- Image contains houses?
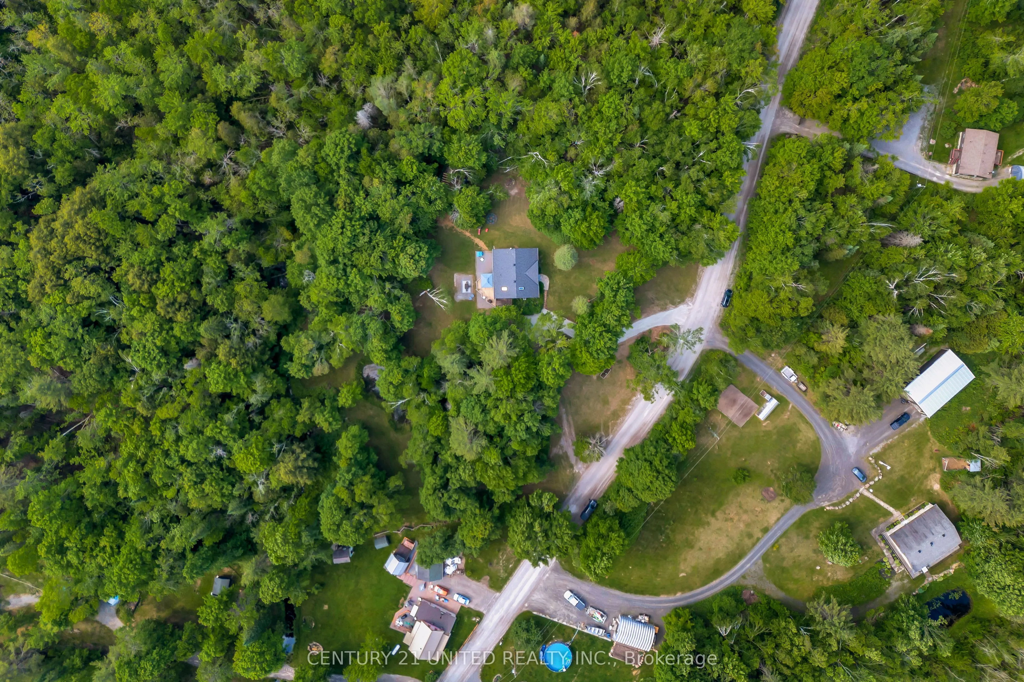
Yes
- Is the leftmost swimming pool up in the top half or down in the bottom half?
bottom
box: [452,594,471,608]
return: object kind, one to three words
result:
car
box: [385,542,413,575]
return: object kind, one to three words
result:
barn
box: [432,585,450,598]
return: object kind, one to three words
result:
vehicle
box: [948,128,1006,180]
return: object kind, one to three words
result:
house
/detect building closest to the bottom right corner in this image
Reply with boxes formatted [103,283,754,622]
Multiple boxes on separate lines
[882,503,962,581]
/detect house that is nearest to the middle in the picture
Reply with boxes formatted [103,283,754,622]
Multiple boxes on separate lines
[492,246,542,301]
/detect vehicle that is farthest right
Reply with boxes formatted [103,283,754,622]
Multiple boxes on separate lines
[890,412,914,431]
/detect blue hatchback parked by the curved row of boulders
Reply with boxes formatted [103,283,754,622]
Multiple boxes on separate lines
[853,467,869,484]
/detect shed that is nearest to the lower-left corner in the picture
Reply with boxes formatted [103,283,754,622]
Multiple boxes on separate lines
[212,575,233,597]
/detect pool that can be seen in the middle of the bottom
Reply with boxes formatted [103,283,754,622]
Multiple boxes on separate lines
[544,644,573,675]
